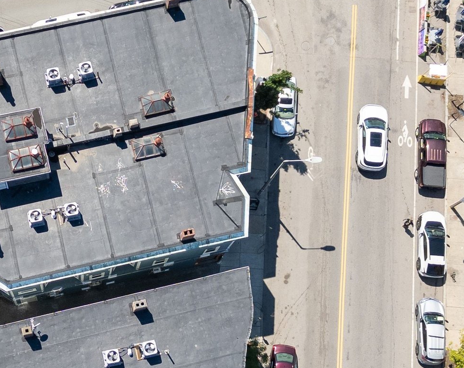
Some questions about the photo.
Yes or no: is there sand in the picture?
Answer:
No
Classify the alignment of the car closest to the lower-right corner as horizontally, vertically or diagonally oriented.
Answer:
vertically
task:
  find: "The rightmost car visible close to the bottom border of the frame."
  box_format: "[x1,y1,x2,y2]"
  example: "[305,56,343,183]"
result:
[415,298,449,365]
